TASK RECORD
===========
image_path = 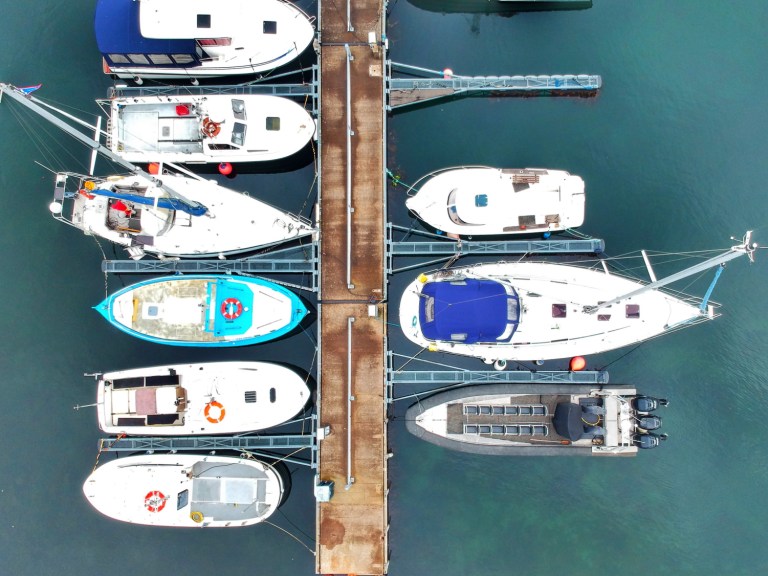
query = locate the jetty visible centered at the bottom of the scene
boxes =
[317,302,386,572]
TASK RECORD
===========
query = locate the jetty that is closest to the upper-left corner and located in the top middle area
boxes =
[320,0,386,44]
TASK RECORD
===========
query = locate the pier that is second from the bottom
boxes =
[318,44,386,300]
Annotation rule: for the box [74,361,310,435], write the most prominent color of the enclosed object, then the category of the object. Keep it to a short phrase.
white boat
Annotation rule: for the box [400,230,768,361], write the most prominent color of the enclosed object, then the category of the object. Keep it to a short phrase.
white boat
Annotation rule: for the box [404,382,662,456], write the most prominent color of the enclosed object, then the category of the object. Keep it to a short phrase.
gray boat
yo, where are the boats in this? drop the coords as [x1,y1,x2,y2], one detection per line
[405,166,586,236]
[79,452,285,527]
[97,94,316,164]
[404,382,662,456]
[0,80,319,260]
[95,0,320,82]
[400,230,768,361]
[92,274,312,347]
[74,361,310,435]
